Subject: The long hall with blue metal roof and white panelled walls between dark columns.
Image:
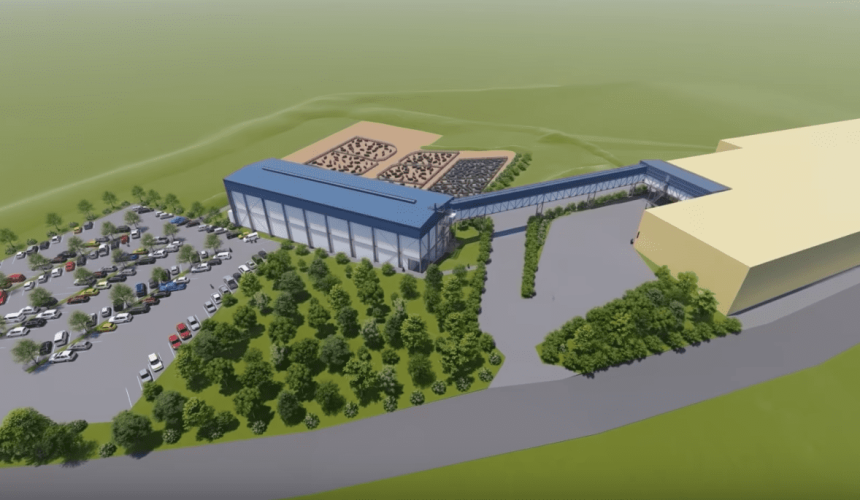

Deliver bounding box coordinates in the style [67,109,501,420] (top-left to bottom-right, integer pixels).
[223,158,454,276]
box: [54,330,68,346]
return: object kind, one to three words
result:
car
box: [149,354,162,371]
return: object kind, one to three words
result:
vehicle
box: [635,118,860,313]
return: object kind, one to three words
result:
building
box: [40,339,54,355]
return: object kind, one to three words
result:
vehicle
